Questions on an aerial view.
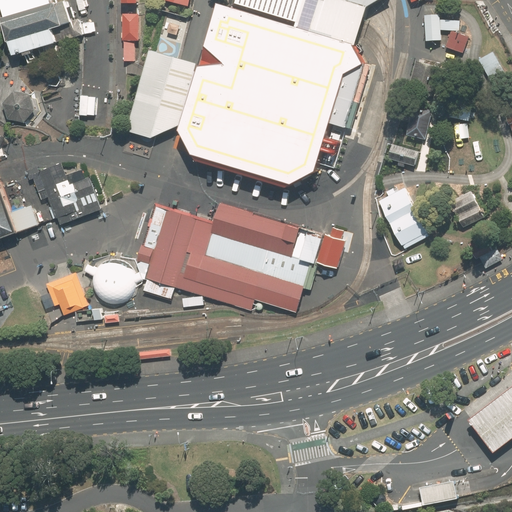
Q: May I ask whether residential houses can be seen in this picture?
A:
Yes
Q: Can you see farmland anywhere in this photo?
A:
No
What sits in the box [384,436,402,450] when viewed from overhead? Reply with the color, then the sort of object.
blue vehicle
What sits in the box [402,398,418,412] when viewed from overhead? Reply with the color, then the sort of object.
white car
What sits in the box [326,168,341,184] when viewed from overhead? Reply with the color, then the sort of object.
white car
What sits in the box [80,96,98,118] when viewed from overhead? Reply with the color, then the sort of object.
white tent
